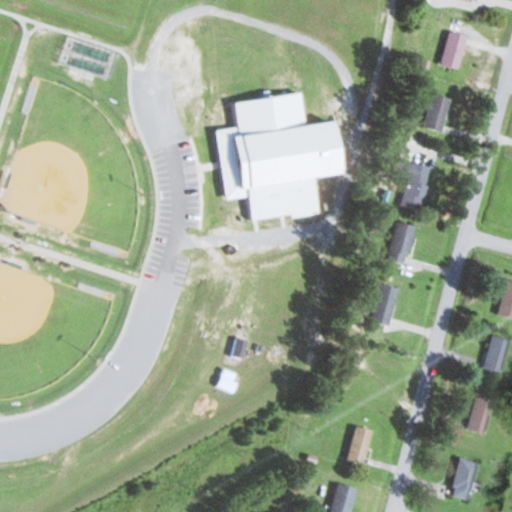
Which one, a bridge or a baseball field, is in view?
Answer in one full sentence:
This aerial view contains a baseball field.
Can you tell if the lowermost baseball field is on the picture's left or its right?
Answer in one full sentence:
You can find the lowermost baseball field on the left side of the picture.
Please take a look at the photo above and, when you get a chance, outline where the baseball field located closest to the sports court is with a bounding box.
[0,78,138,254]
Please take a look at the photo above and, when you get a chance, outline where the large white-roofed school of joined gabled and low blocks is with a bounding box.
[216,90,347,222]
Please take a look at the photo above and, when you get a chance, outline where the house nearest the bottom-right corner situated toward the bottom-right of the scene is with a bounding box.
[452,458,479,502]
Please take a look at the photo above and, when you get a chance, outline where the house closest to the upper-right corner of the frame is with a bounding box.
[442,32,468,70]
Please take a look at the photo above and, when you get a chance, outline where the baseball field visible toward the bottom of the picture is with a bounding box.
[0,263,112,400]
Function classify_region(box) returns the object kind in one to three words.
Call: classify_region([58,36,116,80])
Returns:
sports court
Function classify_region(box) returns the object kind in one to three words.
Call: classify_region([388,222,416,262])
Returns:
house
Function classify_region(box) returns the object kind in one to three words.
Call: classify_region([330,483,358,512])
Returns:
house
